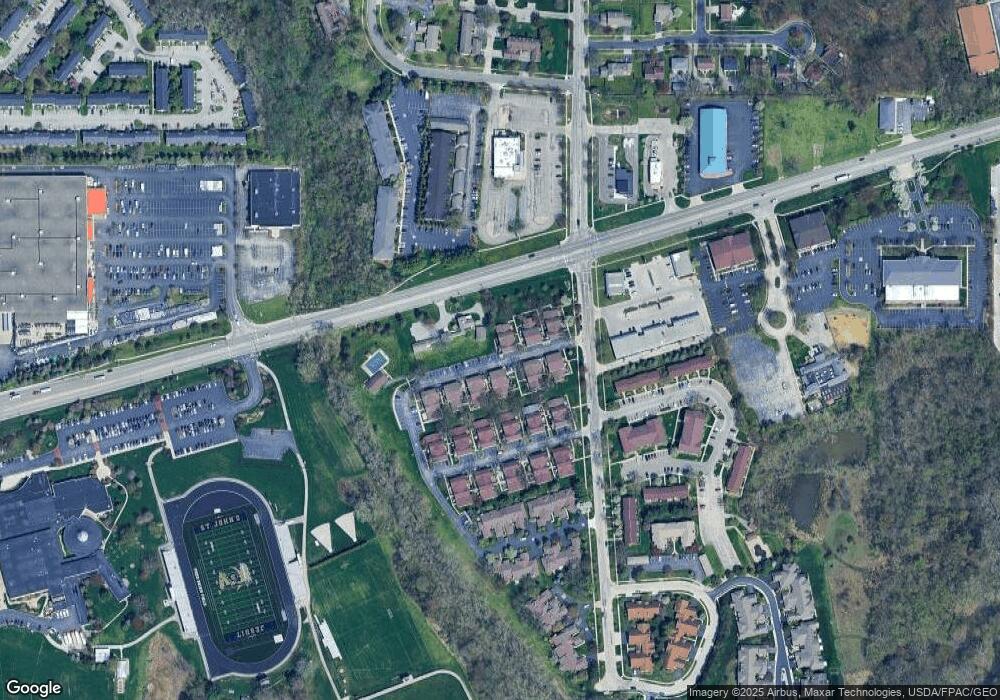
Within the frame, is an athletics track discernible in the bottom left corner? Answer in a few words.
Yes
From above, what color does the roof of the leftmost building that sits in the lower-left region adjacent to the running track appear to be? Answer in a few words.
blue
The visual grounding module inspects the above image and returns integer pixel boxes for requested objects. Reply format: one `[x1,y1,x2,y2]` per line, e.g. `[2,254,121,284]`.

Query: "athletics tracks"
[164,478,299,679]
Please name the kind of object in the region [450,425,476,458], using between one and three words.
house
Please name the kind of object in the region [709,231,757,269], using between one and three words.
building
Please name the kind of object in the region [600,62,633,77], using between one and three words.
house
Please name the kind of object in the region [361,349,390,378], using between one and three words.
swimming pool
